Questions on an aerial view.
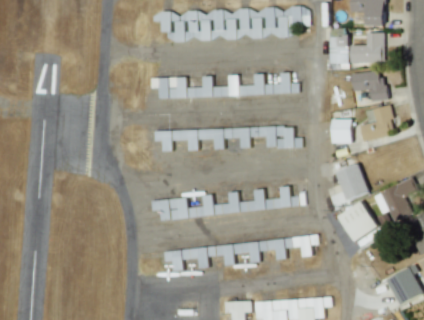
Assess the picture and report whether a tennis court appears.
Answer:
No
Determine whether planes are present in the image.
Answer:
Yes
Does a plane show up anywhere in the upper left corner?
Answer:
No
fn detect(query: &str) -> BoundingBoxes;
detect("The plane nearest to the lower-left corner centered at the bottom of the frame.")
[157,263,180,282]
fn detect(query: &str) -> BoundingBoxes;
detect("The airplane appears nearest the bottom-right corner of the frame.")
[234,256,258,272]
